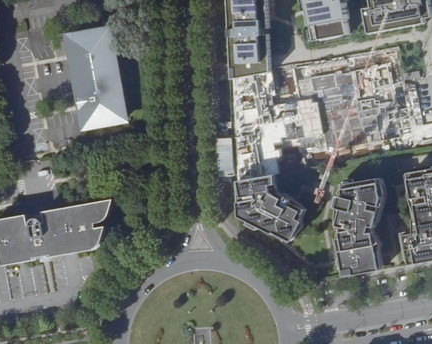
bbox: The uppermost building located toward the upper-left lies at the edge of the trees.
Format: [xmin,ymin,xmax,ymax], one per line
[62,26,128,130]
